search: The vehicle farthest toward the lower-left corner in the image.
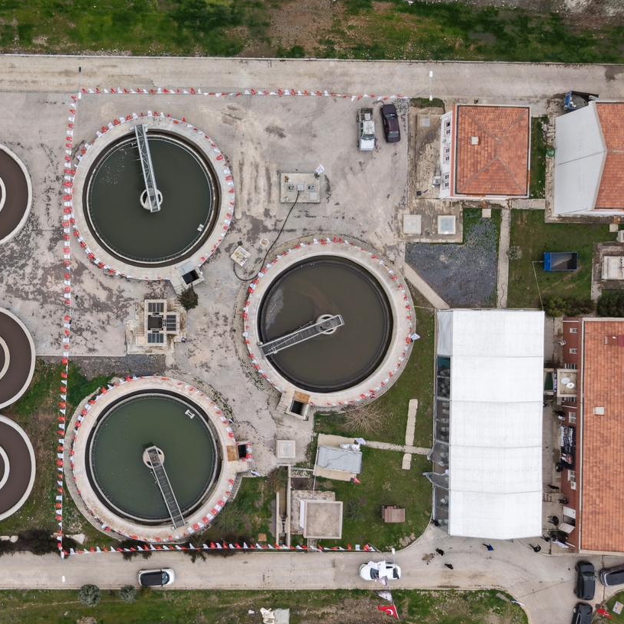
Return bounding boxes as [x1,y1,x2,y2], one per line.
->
[138,569,175,589]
